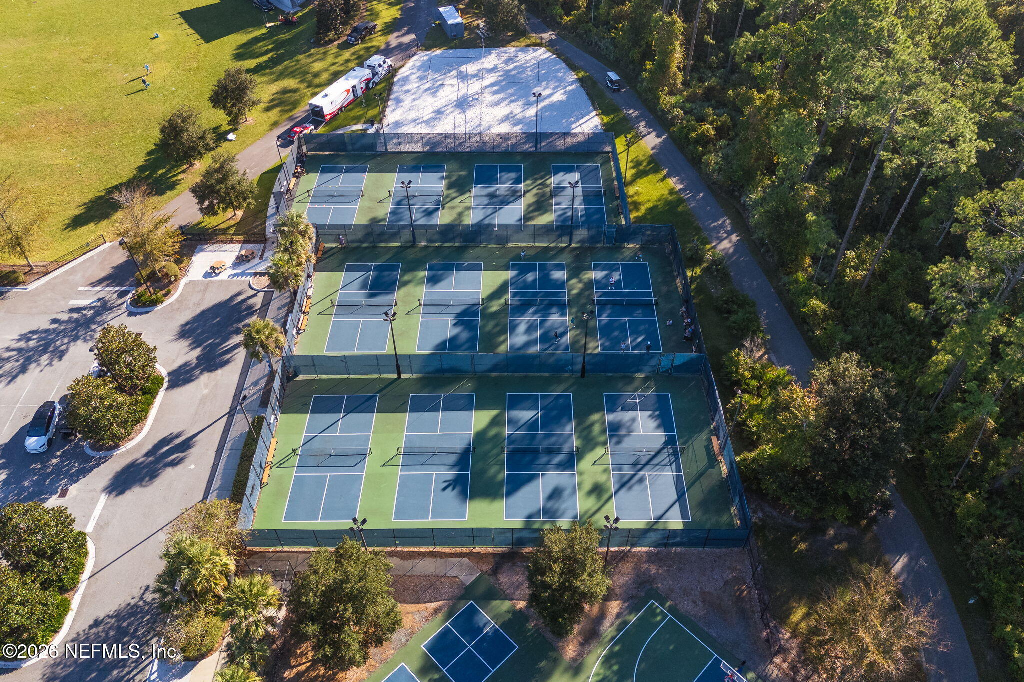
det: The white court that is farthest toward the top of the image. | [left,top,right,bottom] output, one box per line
[378,47,611,152]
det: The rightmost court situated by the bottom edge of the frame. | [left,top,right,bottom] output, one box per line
[590,601,753,682]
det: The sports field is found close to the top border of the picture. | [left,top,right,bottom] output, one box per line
[0,0,404,269]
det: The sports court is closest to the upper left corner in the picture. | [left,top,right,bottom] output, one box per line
[304,165,369,224]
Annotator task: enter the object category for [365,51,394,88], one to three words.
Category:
truck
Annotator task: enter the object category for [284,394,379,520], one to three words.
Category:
sports court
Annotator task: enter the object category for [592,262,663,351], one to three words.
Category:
sports court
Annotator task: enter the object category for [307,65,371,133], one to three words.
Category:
trailer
